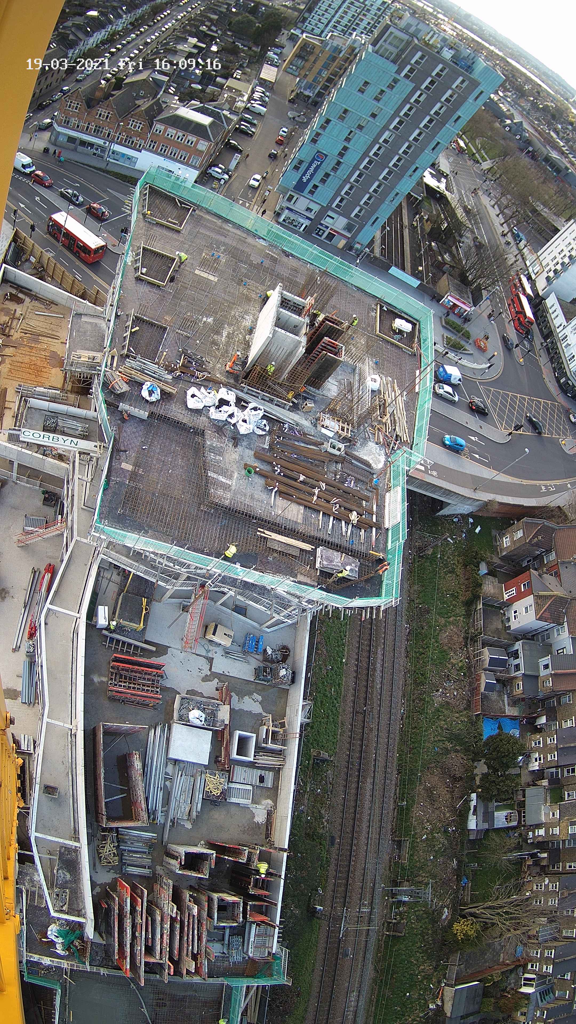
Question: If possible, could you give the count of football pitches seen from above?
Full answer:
I count no football pitches.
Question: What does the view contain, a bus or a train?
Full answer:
Of the two, only a bus appears.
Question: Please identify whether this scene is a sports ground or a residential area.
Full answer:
This image shows a residential area.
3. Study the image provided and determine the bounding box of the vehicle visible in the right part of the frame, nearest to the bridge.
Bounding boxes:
[443,435,472,453]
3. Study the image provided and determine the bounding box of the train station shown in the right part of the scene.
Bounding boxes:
[370,168,474,299]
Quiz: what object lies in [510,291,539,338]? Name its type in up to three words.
bus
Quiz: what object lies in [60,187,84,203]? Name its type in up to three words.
car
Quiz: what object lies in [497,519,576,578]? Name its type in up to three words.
house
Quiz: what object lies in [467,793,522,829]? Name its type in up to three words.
shed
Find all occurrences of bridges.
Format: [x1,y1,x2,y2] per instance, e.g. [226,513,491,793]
[392,463,494,515]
